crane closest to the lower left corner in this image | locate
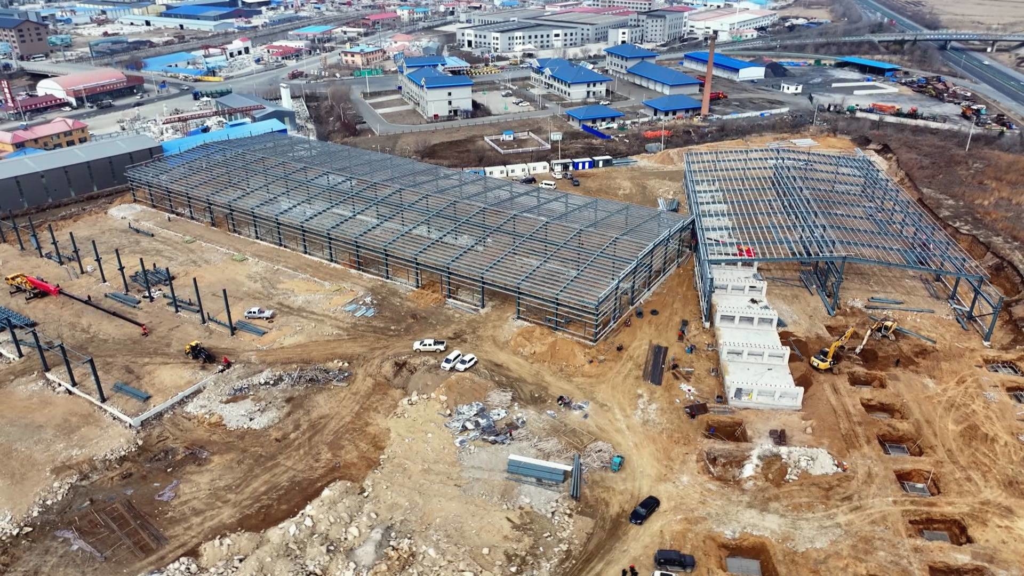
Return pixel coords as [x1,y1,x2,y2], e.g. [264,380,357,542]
[0,276,150,331]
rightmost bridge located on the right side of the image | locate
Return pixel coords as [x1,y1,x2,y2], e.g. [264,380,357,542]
[740,30,1024,52]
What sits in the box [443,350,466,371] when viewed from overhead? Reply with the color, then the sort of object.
white car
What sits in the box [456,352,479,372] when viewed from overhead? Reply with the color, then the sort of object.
white car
